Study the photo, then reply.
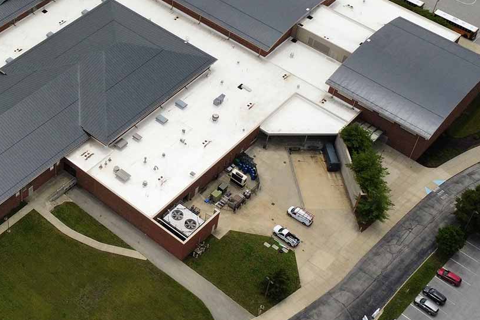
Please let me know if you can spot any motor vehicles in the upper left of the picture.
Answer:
No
